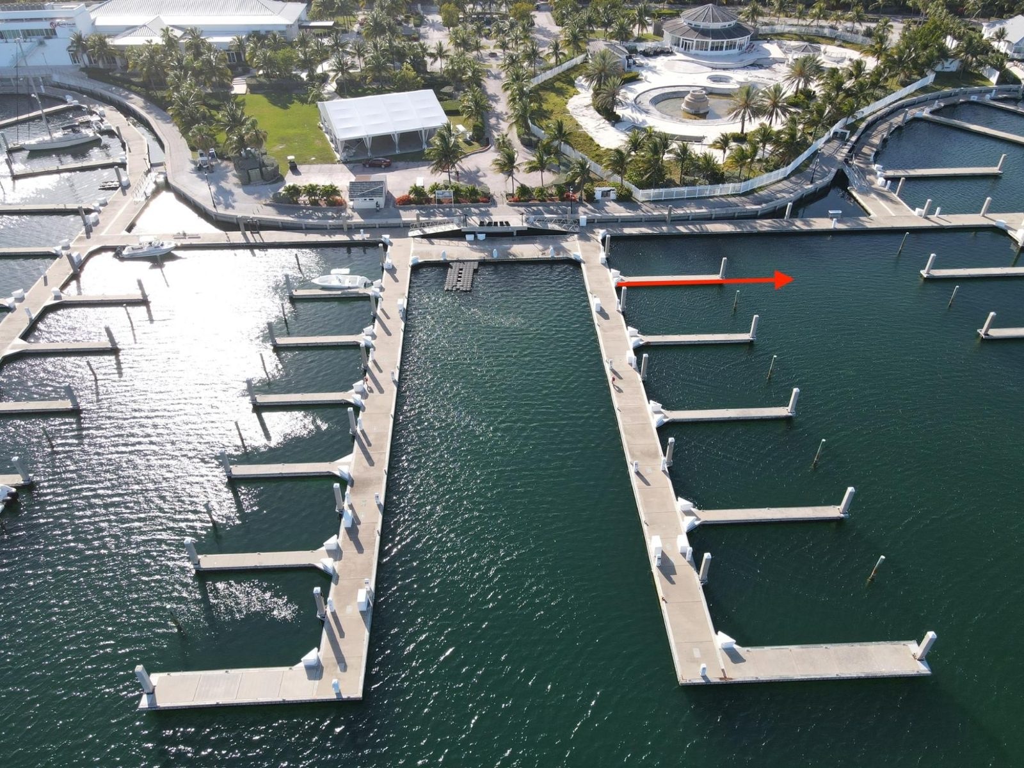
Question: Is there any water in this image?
Yes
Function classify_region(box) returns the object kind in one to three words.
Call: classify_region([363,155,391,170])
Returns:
car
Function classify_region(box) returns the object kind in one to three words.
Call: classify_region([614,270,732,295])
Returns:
pier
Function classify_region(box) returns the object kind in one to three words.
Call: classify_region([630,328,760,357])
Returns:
pier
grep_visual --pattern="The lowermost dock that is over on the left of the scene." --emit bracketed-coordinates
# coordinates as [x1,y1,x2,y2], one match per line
[139,644,322,712]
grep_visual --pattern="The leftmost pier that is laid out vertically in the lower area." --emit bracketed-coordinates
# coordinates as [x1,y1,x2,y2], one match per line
[314,239,409,704]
